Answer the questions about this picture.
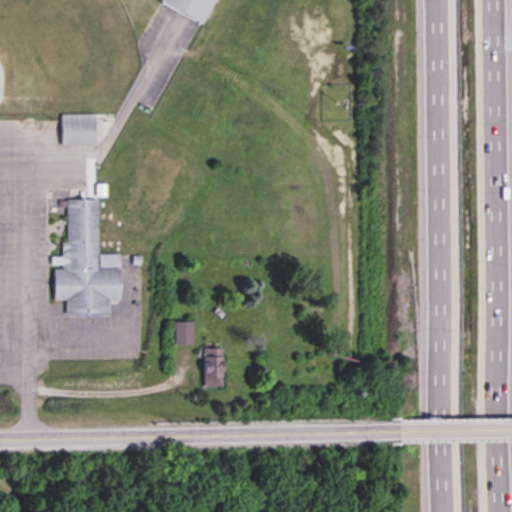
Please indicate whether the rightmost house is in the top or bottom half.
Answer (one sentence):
The bottom half of the photo is where the rightmost house is.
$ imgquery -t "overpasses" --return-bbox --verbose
[393,418,512,445]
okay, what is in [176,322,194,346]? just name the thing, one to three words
building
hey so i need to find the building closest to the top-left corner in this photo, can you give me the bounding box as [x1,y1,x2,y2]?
[61,114,96,144]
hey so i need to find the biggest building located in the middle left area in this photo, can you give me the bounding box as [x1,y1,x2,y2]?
[51,200,122,316]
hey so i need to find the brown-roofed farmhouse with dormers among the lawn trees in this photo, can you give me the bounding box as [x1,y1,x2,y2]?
[200,344,226,390]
